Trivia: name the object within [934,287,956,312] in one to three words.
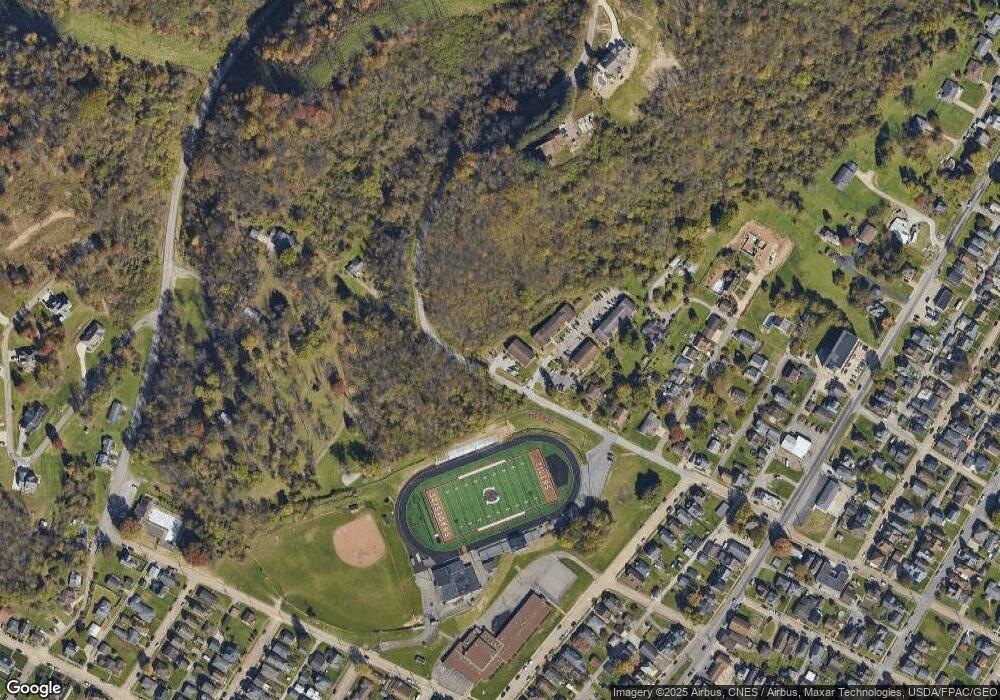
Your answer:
building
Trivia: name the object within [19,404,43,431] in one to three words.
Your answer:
house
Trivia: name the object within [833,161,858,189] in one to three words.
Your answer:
barn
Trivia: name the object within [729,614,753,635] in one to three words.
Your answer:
house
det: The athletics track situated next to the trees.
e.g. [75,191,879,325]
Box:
[401,432,581,560]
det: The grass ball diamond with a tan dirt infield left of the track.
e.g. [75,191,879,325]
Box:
[286,515,402,587]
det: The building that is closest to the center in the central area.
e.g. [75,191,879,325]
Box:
[505,338,536,367]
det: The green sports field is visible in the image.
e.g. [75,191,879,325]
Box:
[409,439,572,553]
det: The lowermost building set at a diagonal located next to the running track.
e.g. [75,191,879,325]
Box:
[444,595,552,685]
